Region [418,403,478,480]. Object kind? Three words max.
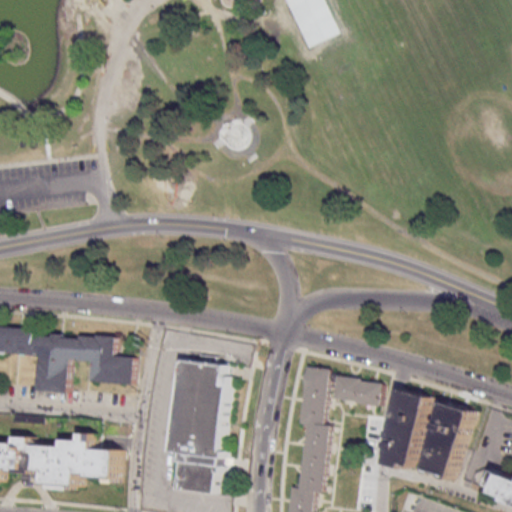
building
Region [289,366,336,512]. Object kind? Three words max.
building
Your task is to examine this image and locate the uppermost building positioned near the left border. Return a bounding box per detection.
[0,327,142,394]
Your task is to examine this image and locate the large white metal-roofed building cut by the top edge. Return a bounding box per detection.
[286,0,344,49]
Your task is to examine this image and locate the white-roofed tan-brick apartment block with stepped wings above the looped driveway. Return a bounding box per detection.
[0,433,126,492]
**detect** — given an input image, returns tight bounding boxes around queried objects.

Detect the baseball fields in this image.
[446,95,512,196]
